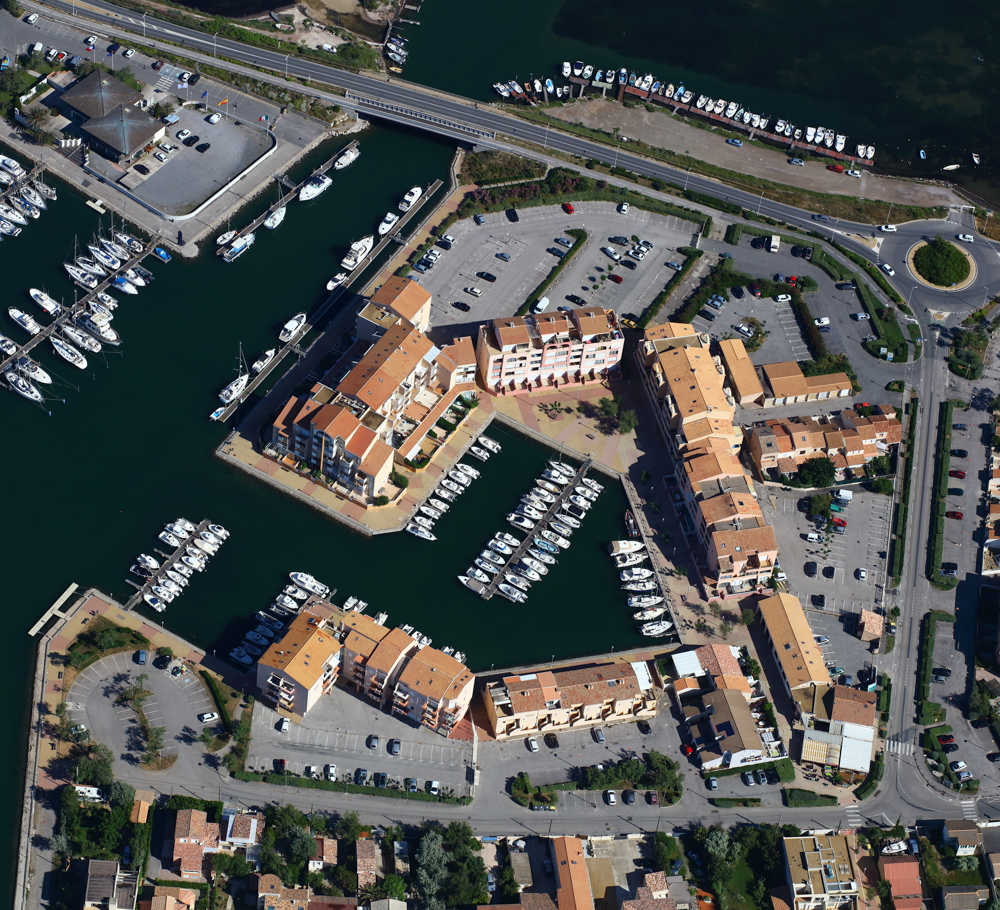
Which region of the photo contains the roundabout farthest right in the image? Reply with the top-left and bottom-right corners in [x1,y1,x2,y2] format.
[908,240,976,289]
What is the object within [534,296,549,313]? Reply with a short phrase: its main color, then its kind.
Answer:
white vehicle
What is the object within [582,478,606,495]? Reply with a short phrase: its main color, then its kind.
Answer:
white boat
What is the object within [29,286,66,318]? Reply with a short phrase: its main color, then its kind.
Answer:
white boat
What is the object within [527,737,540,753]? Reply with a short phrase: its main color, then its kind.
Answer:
white vehicle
